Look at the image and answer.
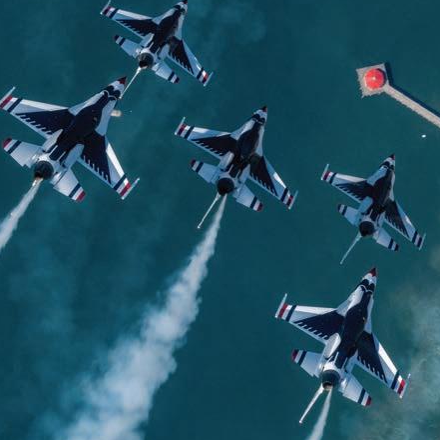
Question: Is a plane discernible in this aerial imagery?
Yes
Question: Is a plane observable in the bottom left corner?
No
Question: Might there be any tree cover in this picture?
No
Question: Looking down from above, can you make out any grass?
No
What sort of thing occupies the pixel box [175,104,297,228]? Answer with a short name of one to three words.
airplane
